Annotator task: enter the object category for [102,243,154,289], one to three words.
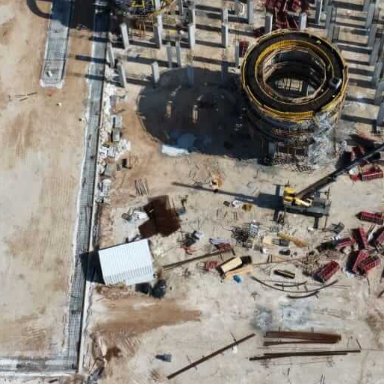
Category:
shed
